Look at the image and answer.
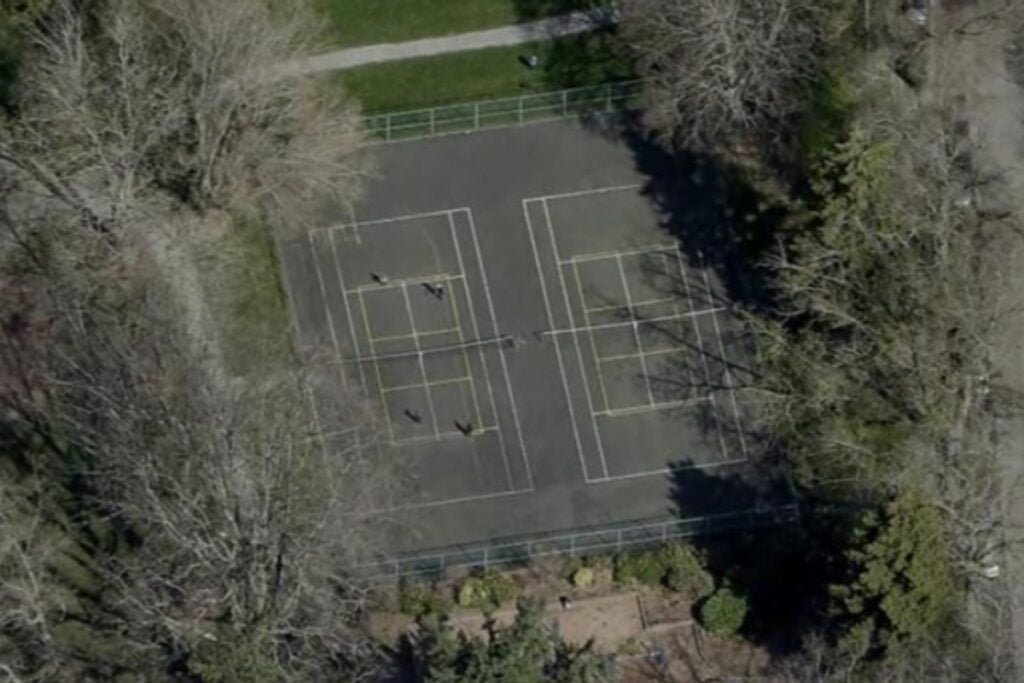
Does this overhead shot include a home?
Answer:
No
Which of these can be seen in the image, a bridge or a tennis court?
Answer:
tennis court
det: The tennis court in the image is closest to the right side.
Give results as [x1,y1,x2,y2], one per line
[514,163,758,498]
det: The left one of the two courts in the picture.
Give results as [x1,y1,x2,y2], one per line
[302,193,542,526]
